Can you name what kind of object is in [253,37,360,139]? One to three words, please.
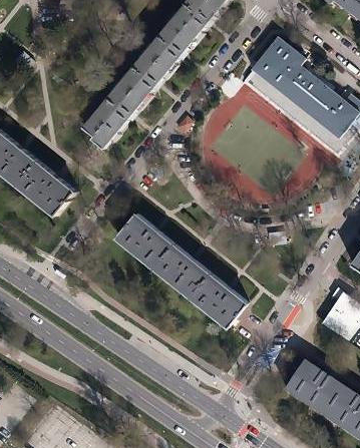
building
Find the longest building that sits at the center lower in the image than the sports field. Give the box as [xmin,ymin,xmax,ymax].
[115,214,248,330]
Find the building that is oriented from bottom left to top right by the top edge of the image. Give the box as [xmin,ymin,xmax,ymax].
[82,0,232,151]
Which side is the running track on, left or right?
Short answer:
right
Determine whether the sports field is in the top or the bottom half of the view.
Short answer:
top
